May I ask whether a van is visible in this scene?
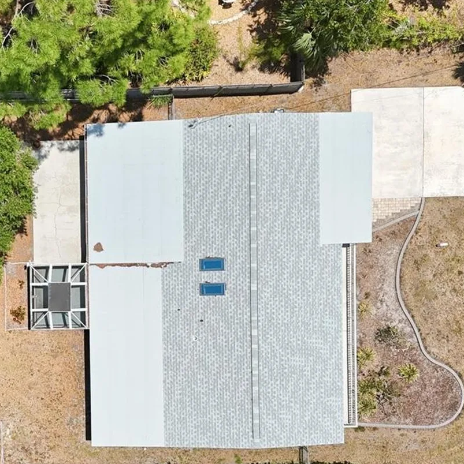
No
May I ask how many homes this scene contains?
1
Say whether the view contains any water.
No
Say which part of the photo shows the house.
center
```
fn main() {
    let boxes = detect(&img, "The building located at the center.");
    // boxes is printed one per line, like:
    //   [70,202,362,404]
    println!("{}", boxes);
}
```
[85,107,373,449]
